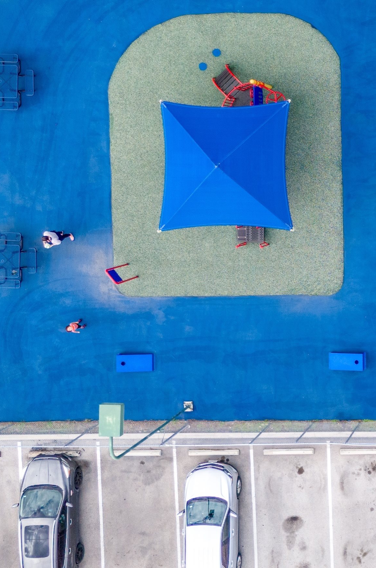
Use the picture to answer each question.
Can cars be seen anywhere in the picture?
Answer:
Yes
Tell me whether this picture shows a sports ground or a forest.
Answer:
sports ground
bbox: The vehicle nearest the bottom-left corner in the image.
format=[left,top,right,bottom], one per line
[14,452,89,568]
